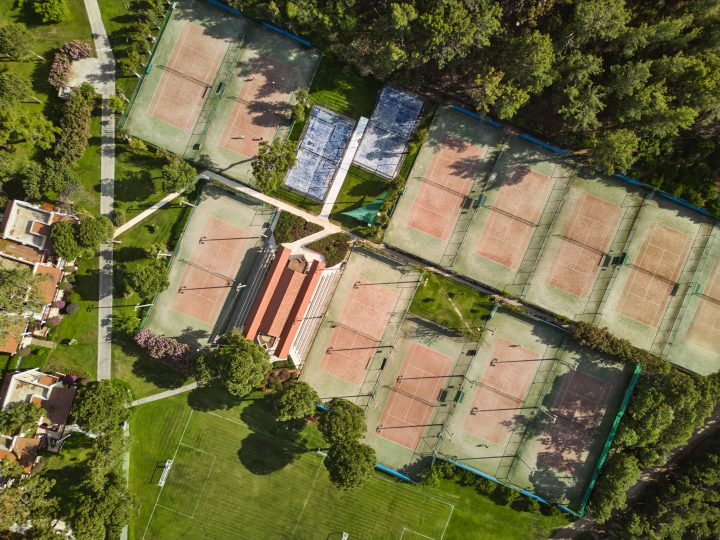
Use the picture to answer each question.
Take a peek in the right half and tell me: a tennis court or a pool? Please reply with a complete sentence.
The feature located in the right half is a tennis court.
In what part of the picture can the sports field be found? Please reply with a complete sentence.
The sports field sits in the bottom section of the image.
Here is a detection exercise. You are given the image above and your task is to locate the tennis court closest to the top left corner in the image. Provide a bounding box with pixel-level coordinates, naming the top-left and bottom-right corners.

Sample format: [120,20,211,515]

[120,0,253,161]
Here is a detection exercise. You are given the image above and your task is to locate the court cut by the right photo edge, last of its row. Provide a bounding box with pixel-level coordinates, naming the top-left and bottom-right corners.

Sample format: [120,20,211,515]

[660,217,720,377]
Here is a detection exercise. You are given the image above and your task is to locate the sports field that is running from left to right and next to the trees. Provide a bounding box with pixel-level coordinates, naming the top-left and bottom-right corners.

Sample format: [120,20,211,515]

[140,406,458,540]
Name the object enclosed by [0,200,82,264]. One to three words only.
house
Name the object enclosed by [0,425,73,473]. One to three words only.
house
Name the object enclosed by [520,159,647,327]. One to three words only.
tennis court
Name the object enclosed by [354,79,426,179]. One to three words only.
sports court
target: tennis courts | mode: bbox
[297,246,423,416]
[353,314,480,486]
[660,217,720,377]
[520,159,647,327]
[590,188,717,356]
[506,333,632,508]
[380,101,508,270]
[194,24,323,191]
[146,186,273,354]
[438,304,566,479]
[450,129,577,298]
[120,0,253,161]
